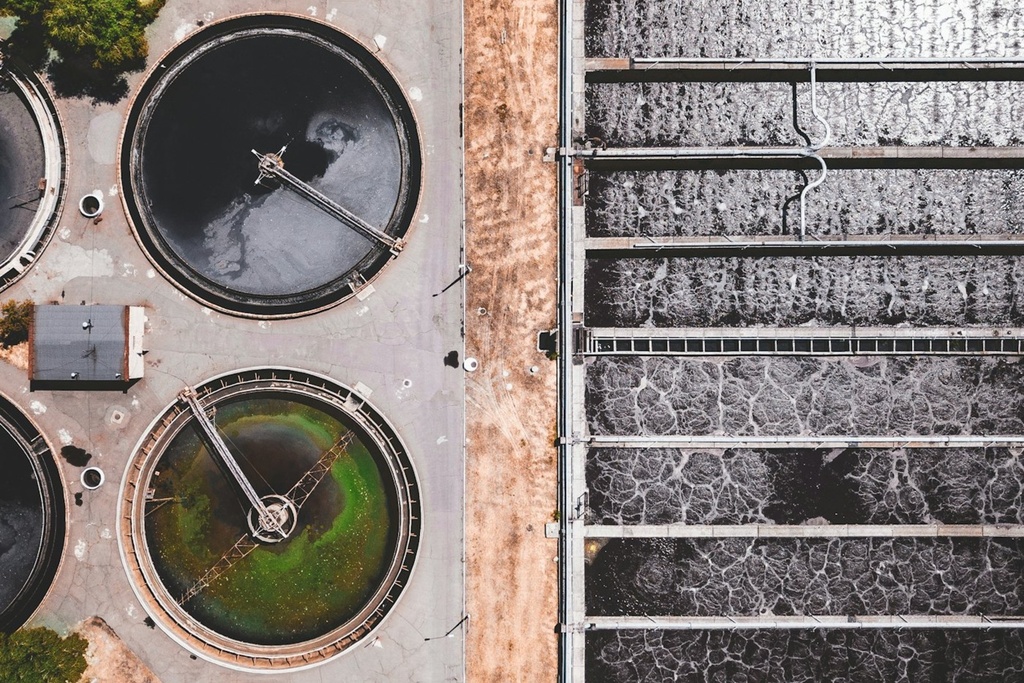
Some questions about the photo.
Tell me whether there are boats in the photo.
No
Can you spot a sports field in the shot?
No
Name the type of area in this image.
industrial area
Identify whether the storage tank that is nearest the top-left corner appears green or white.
white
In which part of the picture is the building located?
left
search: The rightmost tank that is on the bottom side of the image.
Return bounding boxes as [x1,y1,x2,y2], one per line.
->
[118,367,424,672]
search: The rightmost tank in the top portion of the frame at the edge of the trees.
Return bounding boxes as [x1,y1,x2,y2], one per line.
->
[118,12,424,317]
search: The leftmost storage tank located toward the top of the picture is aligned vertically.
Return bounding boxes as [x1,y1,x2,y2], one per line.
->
[0,38,68,292]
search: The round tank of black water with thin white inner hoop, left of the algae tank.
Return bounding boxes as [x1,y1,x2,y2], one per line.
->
[0,392,67,642]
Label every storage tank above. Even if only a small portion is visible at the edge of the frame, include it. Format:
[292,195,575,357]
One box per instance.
[118,12,424,317]
[0,38,68,292]
[118,367,424,672]
[0,392,67,642]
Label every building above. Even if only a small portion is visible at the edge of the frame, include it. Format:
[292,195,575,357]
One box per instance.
[27,304,145,381]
